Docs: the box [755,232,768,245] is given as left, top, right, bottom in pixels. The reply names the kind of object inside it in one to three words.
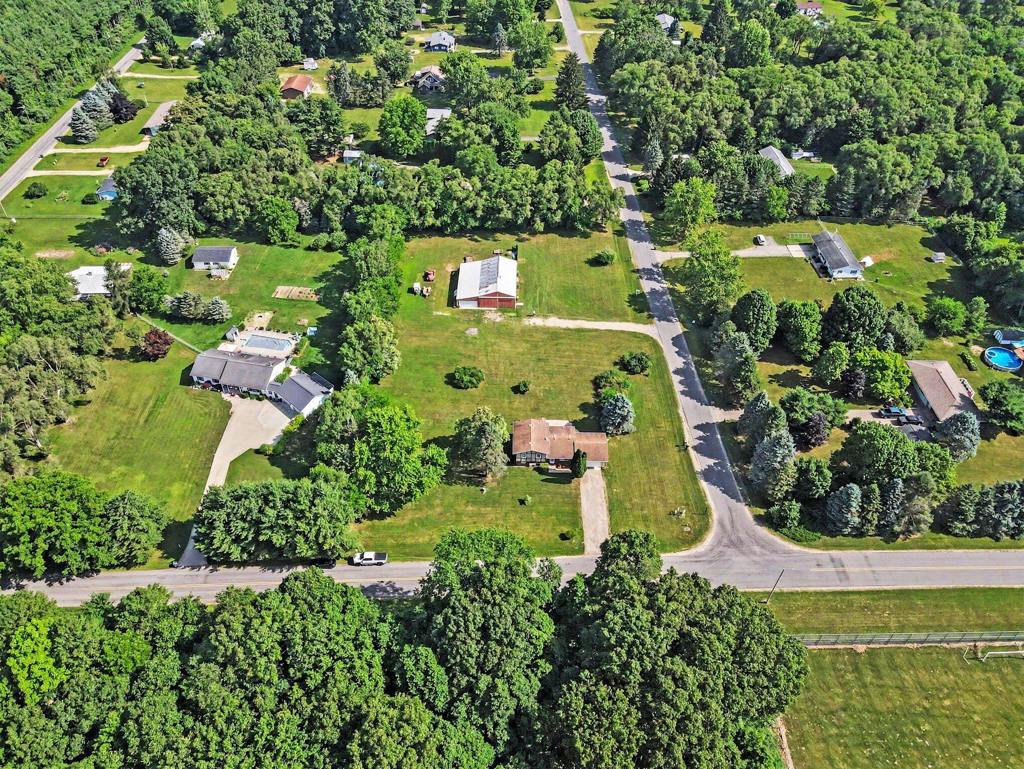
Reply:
vehicle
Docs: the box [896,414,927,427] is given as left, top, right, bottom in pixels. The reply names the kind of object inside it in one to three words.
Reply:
vehicle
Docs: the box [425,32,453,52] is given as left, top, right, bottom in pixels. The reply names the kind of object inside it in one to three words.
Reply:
house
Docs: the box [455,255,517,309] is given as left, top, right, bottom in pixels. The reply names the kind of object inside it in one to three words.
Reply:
barn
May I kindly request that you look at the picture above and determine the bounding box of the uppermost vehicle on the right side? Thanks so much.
[789,146,811,160]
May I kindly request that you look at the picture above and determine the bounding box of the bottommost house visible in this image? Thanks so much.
[512,419,609,475]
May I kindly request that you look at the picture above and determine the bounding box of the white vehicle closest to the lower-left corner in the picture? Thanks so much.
[352,550,388,565]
